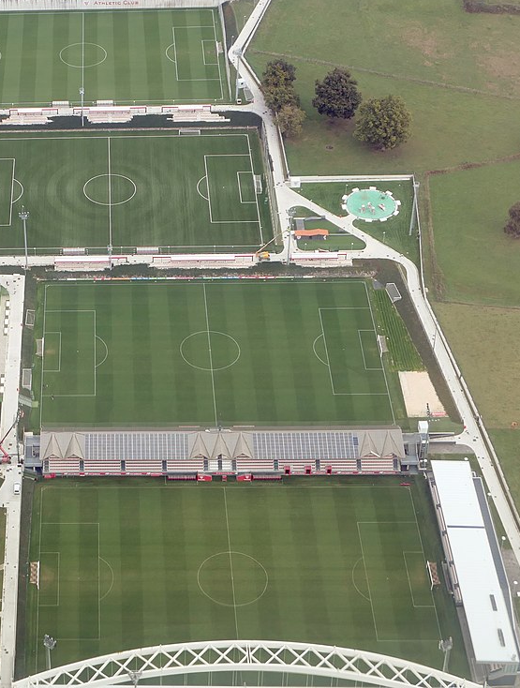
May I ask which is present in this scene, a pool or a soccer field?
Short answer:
soccer field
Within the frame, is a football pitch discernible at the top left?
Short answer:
Yes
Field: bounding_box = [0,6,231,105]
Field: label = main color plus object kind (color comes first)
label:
green soccer field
